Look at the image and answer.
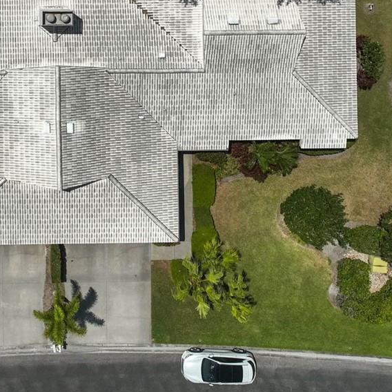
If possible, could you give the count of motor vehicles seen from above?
1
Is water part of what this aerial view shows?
No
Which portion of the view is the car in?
bottom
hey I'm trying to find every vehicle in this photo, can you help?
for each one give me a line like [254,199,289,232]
[178,343,260,388]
